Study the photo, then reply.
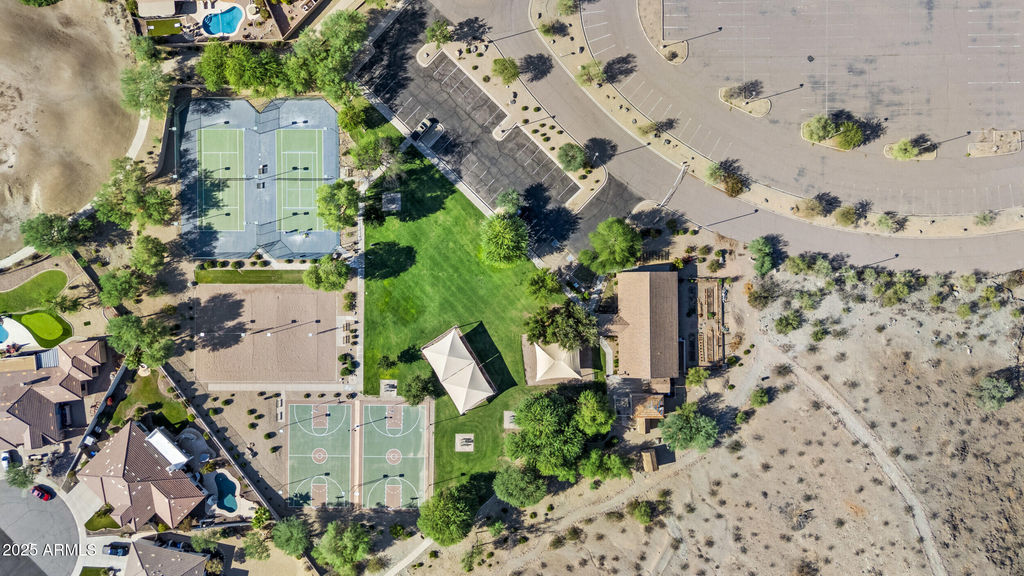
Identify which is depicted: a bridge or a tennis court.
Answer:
tennis court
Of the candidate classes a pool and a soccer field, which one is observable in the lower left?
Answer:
pool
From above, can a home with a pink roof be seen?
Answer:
No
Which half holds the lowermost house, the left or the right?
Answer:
left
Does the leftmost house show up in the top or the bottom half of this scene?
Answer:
bottom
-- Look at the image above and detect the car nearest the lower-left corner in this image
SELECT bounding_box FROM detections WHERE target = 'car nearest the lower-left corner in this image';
[29,487,49,502]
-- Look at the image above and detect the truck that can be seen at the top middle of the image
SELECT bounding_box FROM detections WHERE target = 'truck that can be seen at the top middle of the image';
[408,118,431,142]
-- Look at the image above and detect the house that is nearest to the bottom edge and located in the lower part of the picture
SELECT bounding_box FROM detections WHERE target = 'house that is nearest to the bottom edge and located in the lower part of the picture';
[124,538,210,576]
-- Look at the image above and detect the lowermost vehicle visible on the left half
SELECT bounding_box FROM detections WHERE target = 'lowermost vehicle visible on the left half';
[102,545,129,557]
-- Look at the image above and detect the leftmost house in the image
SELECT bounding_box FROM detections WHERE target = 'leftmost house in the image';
[0,341,103,449]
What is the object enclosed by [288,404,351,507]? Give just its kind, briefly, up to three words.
basketball court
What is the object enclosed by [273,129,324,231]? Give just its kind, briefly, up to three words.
tennis court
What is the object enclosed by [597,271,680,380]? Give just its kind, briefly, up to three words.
building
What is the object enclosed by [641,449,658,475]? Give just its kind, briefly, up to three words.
shed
